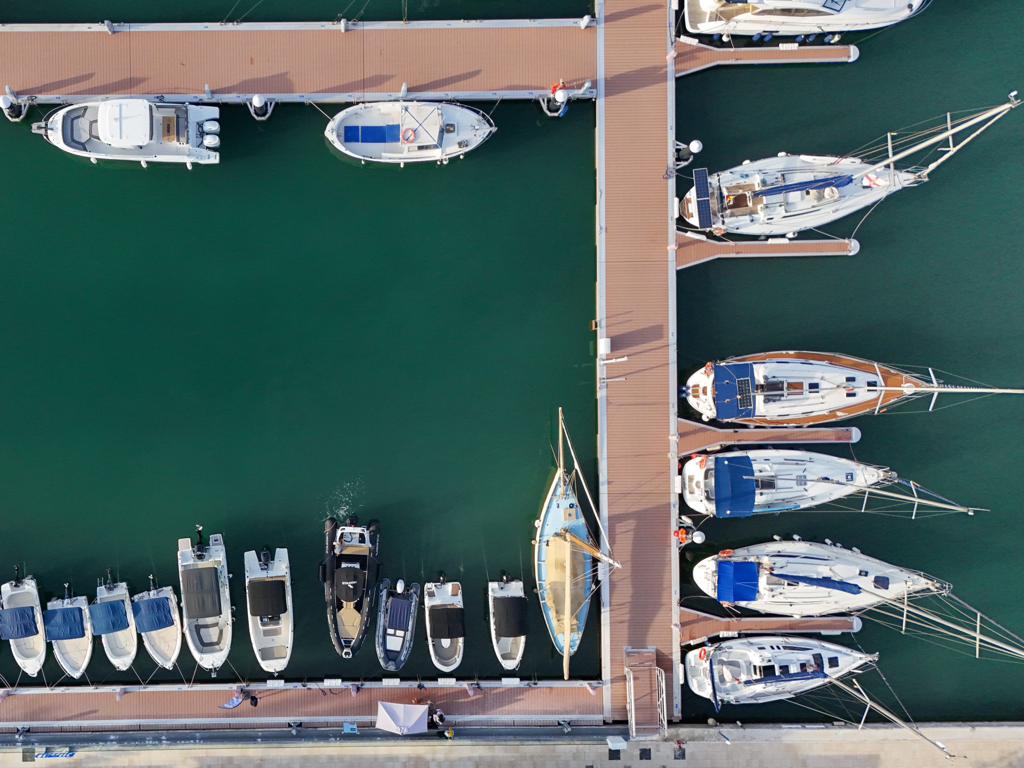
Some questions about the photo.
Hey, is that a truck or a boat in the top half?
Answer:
boat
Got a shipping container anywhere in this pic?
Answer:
No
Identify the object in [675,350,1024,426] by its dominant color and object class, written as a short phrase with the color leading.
white boat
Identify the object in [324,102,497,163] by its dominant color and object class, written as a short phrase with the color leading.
white boat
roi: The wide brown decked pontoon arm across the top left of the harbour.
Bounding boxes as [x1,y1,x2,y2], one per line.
[0,18,596,123]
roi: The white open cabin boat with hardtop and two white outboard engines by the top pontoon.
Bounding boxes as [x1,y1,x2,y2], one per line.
[32,99,222,167]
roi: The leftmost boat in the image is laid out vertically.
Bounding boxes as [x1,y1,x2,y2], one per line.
[0,564,48,677]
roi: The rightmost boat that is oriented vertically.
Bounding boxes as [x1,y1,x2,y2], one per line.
[534,406,623,680]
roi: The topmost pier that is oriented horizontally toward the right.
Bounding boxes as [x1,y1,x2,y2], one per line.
[675,36,859,79]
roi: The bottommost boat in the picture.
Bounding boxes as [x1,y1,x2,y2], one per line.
[683,635,968,761]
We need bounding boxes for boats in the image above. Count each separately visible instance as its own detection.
[678,90,1023,236]
[488,569,526,670]
[424,570,465,672]
[45,583,94,679]
[178,527,232,677]
[324,102,497,163]
[534,406,623,680]
[675,350,1024,426]
[90,568,138,671]
[681,449,990,519]
[376,578,419,672]
[692,540,1024,665]
[32,99,222,167]
[324,515,380,658]
[244,547,294,676]
[0,564,48,677]
[683,635,968,761]
[133,575,182,670]
[676,0,930,41]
